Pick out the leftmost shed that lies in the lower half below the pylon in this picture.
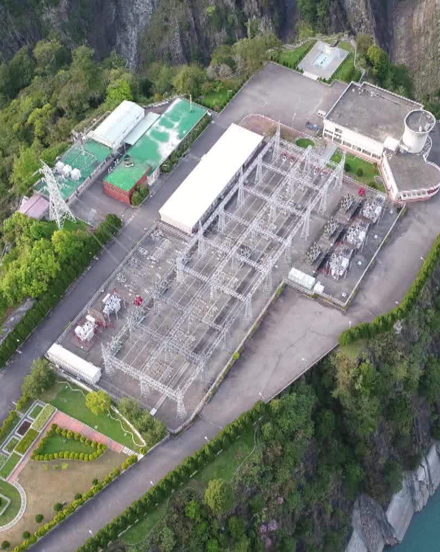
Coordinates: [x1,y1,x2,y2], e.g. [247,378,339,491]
[47,344,103,384]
